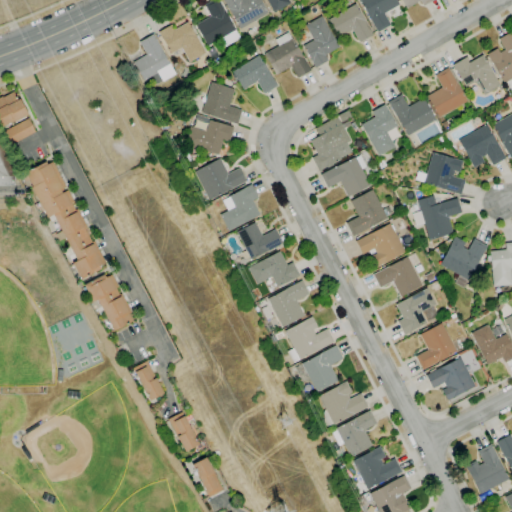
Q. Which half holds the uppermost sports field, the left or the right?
left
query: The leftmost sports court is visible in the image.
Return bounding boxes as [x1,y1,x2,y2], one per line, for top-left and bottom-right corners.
[50,314,104,380]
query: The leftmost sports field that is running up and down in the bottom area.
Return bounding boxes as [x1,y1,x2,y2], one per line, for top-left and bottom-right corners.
[0,269,53,388]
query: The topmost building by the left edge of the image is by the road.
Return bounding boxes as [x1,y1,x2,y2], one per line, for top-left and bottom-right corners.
[0,90,29,126]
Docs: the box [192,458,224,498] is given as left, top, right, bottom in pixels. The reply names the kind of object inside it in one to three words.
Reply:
house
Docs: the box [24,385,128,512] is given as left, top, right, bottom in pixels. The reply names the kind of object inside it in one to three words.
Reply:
baseball field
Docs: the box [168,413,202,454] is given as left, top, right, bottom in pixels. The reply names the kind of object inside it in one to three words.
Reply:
house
